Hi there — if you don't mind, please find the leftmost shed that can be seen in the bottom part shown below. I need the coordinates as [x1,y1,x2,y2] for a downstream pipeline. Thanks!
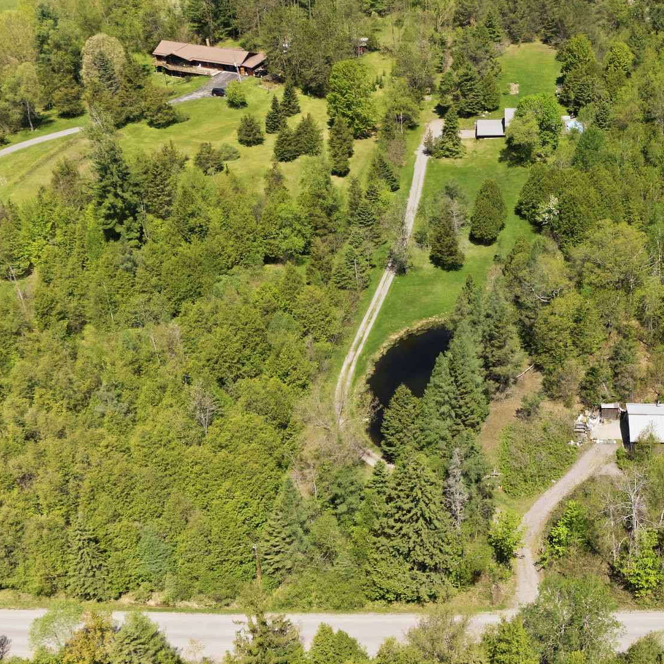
[600,400,622,419]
